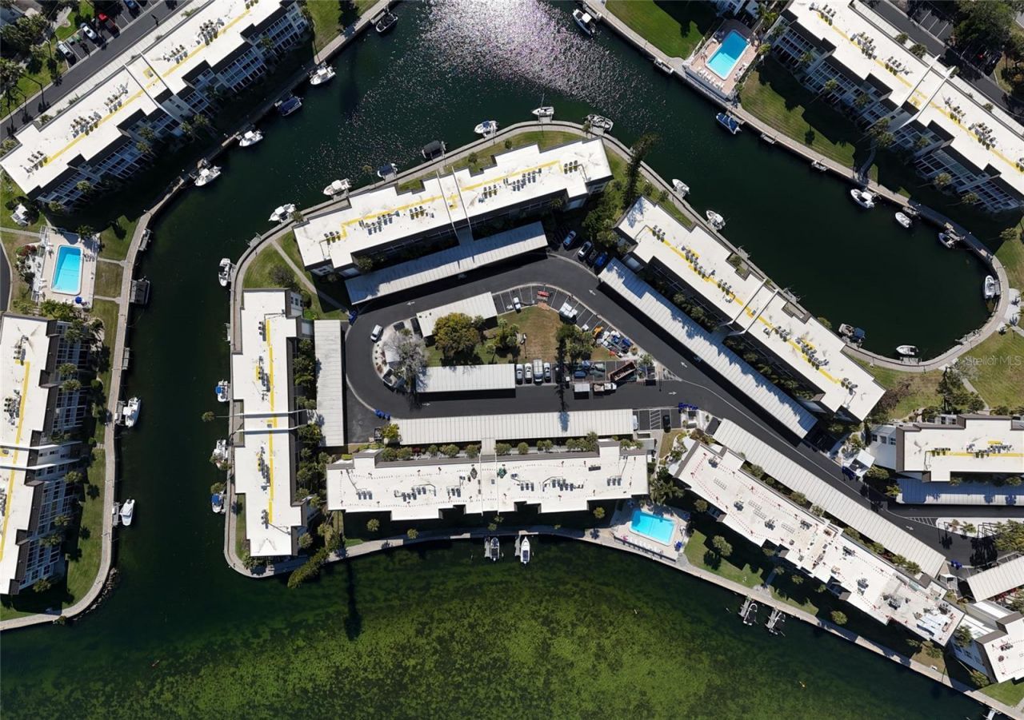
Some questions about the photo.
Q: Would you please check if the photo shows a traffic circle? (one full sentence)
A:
No, the photo shows no traffic circle.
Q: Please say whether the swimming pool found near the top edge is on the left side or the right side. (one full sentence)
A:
It is on the right.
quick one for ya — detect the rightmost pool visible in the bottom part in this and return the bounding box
[609,498,687,560]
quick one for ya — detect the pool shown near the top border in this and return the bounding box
[691,19,757,94]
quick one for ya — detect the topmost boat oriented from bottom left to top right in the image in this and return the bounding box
[378,13,400,32]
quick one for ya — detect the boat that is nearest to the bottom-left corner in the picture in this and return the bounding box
[124,498,136,524]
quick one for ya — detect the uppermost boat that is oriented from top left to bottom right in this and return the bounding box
[574,10,596,37]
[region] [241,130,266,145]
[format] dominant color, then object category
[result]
white boat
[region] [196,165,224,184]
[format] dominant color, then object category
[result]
white boat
